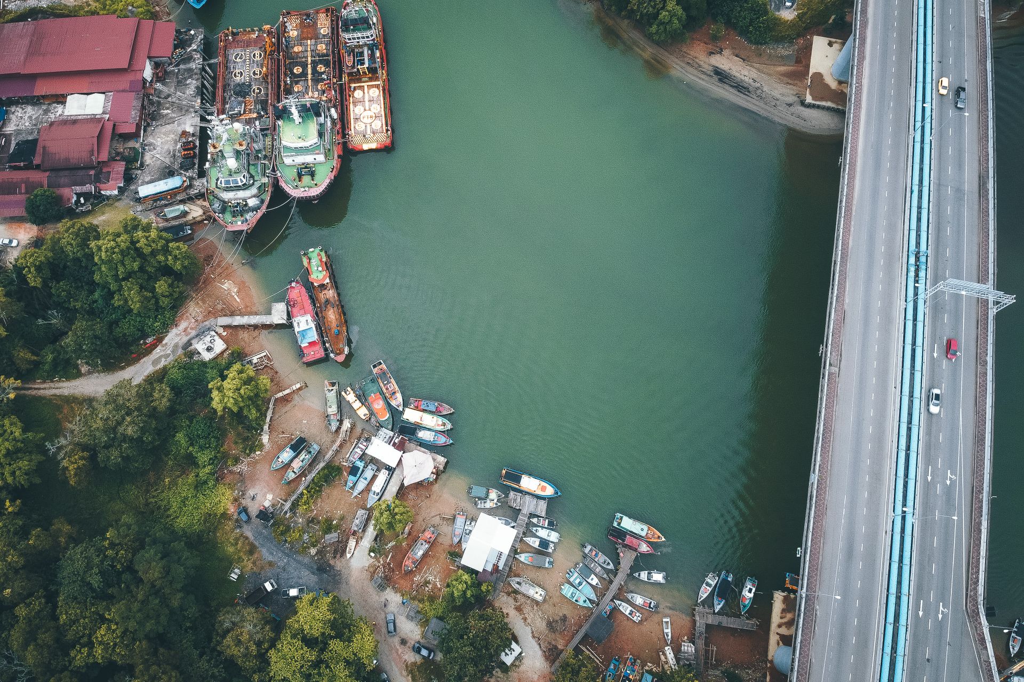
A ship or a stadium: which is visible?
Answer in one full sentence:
Visible in the photo is a ship.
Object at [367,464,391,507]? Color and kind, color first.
white boat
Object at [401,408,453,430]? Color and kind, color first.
white boat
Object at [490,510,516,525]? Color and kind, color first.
gray boat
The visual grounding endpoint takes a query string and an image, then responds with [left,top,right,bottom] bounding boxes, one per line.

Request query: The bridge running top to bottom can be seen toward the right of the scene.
[765,0,1000,682]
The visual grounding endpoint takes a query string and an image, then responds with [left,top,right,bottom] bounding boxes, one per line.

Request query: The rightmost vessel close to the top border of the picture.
[339,0,395,155]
